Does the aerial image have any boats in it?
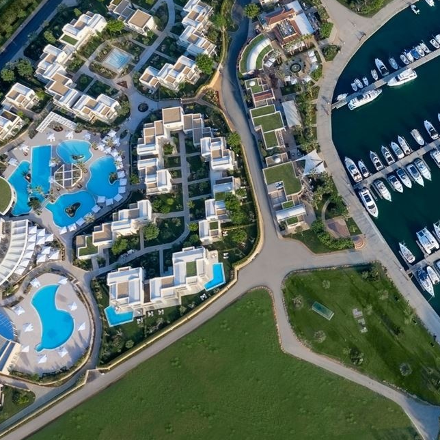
Yes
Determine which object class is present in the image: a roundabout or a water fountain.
water fountain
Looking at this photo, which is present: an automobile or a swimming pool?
swimming pool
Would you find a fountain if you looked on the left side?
Yes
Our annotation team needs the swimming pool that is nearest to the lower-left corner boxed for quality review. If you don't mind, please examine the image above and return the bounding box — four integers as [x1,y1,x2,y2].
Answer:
[32,283,76,350]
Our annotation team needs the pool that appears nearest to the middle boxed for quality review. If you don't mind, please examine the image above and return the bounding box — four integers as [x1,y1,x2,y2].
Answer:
[203,262,226,290]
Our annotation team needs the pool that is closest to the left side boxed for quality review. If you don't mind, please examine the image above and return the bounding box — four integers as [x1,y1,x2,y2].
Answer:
[6,158,32,217]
